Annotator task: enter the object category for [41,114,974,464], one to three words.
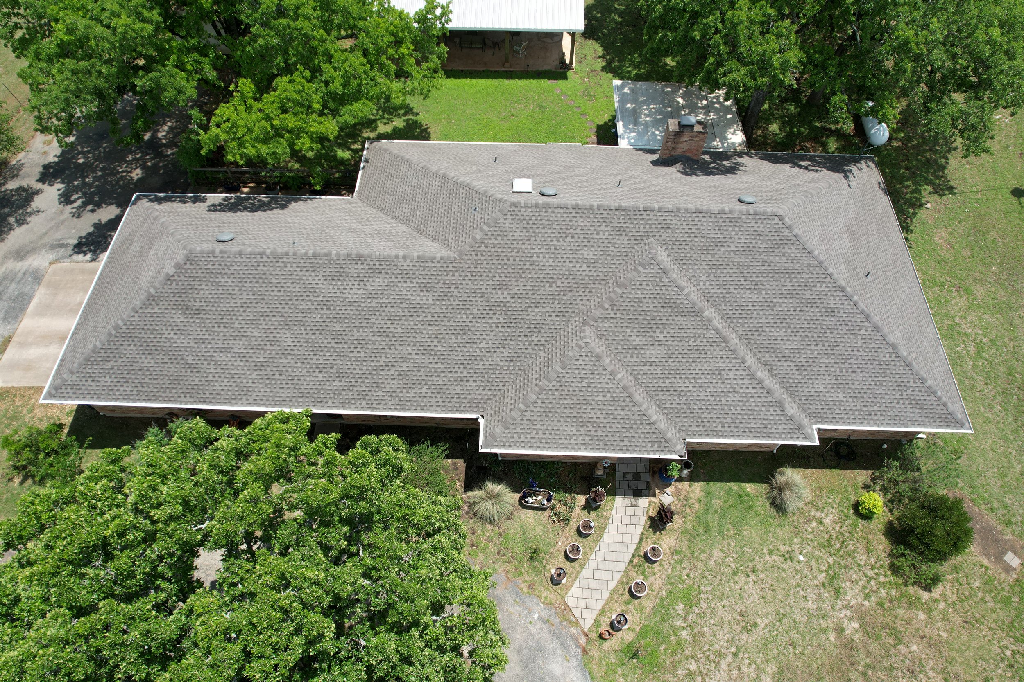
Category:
house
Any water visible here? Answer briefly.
No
